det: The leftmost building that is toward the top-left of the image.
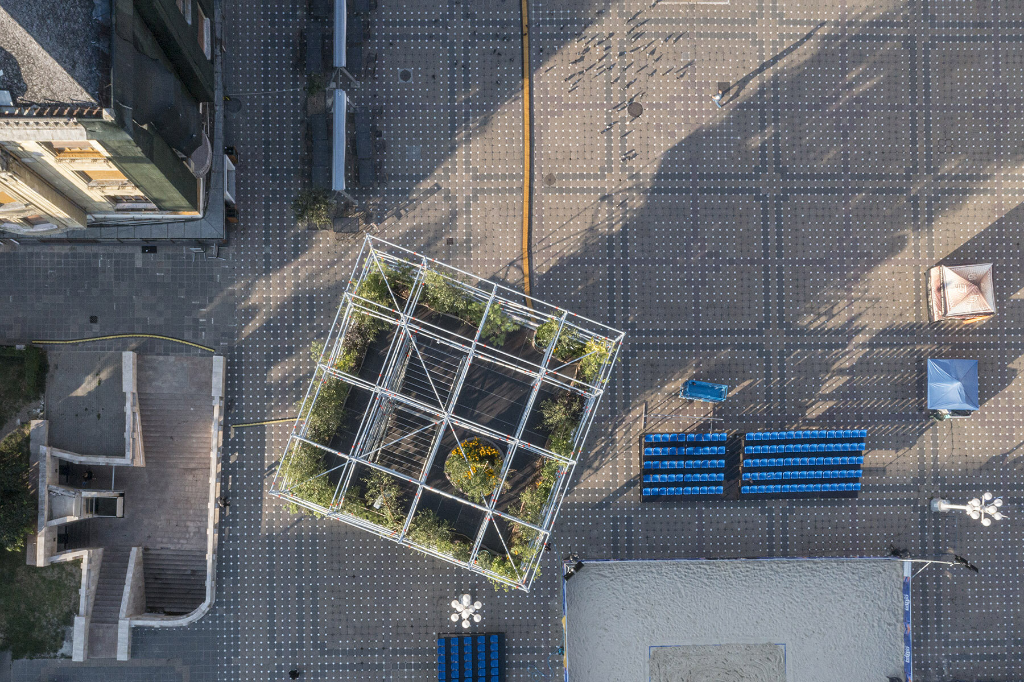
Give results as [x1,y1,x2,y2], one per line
[0,0,228,251]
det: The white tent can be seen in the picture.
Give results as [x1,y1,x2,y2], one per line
[917,263,996,326]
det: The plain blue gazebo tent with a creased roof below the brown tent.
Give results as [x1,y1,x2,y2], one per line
[902,359,979,414]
